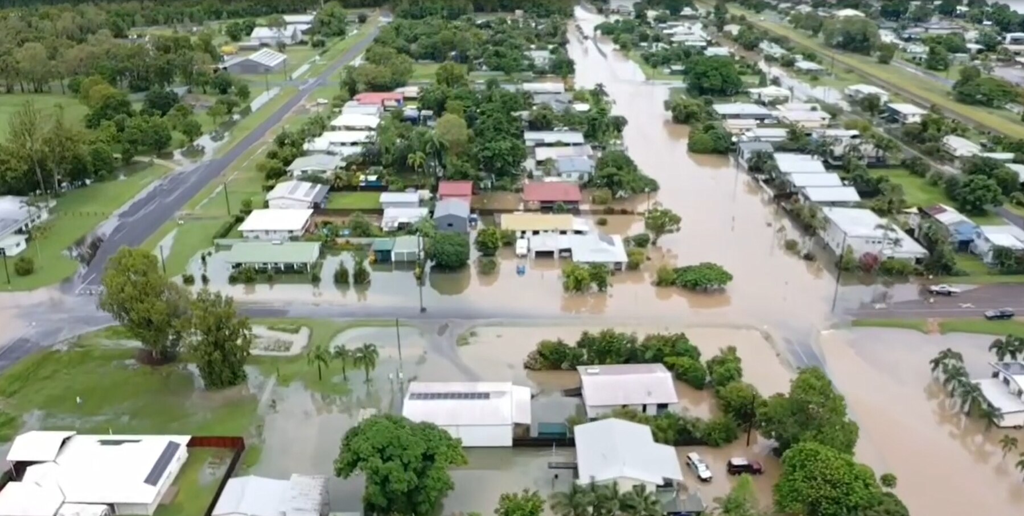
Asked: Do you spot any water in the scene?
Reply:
Yes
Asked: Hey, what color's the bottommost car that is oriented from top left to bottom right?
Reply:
white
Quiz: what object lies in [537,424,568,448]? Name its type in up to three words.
shed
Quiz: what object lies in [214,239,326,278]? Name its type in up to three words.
house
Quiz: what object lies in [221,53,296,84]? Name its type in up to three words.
shed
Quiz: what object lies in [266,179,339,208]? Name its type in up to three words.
house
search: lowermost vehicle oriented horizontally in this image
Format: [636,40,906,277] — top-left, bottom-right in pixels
[726,457,767,475]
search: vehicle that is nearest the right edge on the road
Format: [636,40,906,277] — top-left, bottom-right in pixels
[983,306,1017,319]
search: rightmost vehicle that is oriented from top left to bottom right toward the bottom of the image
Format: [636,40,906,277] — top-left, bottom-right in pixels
[683,450,717,480]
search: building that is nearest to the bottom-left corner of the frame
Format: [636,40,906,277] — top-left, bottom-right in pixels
[0,427,198,516]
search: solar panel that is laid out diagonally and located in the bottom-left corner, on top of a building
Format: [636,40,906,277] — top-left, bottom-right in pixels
[150,444,185,484]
